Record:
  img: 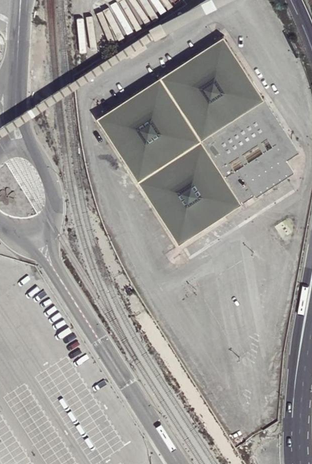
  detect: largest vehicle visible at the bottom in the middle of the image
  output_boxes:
[155,426,176,452]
